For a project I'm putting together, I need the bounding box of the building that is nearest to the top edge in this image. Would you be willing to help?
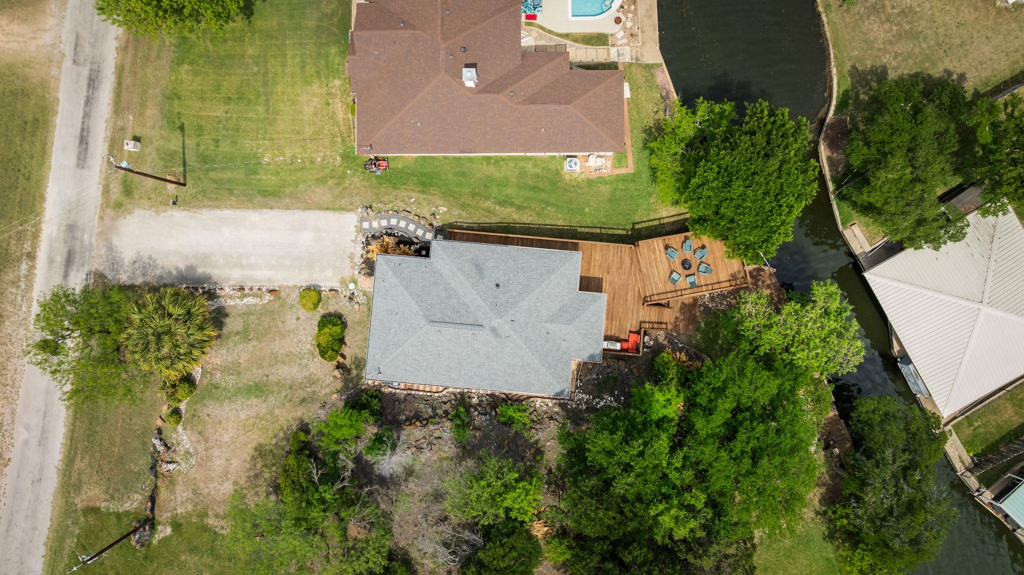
[348,0,625,156]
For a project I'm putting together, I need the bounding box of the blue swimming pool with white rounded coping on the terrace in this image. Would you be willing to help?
[568,0,620,20]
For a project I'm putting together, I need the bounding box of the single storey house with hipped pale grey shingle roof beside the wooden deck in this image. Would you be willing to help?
[363,237,608,400]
